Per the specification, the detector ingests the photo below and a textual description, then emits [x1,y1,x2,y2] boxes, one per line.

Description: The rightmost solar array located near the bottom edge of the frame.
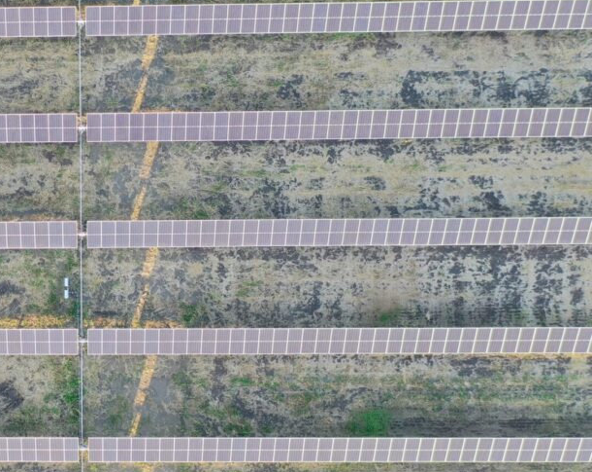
[88,438,592,461]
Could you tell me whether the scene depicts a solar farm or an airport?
solar farm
